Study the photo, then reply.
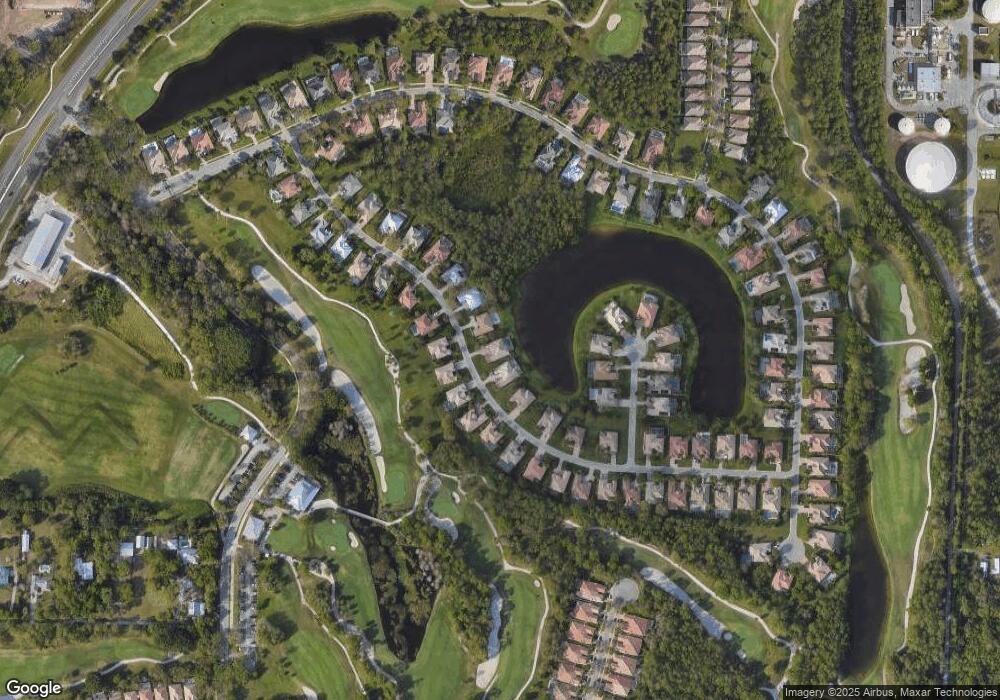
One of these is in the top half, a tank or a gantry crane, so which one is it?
tank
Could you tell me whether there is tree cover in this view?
Yes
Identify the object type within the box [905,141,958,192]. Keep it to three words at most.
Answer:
storage tank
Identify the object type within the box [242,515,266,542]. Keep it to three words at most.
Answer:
barn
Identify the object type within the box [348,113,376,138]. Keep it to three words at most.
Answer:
house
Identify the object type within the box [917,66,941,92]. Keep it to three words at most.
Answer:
building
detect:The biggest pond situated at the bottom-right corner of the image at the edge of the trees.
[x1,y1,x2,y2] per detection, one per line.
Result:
[840,484,890,678]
